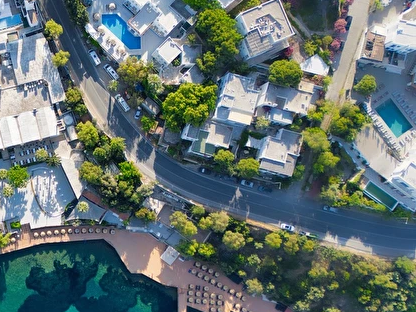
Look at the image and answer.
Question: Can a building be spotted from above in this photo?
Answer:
Yes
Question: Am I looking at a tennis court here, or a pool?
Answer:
pool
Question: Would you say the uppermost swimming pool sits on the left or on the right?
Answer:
left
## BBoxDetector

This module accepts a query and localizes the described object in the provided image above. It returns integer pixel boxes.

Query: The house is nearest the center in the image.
[178,122,234,156]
